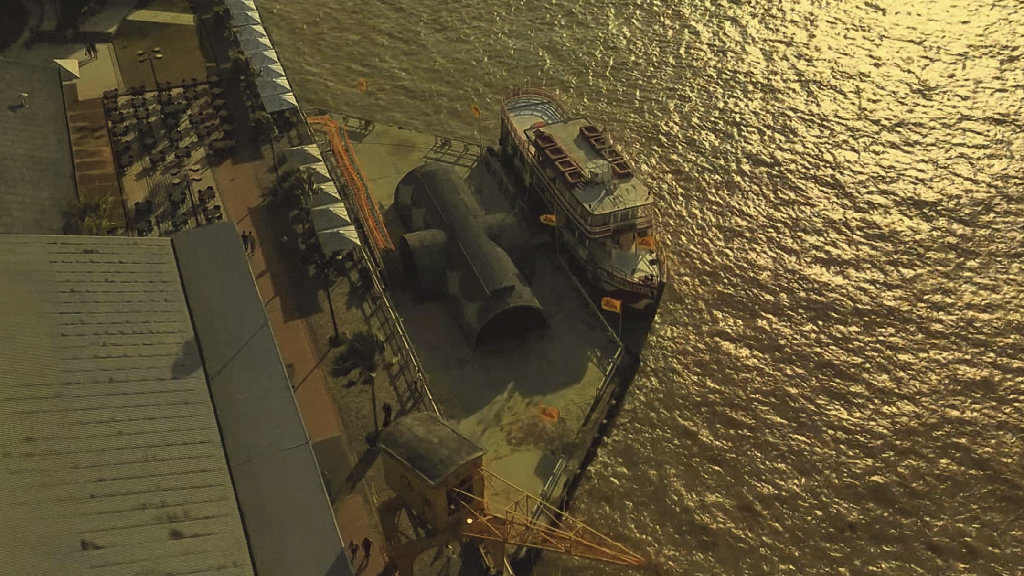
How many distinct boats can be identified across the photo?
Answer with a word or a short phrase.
one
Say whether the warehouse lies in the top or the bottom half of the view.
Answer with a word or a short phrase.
bottom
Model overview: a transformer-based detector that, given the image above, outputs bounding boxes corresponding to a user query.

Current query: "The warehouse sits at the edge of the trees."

[0,223,355,576]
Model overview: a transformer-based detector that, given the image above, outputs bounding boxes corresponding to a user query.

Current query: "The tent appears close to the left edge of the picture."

[51,58,86,100]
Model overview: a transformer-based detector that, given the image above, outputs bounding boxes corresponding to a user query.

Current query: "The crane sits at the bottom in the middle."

[362,415,651,576]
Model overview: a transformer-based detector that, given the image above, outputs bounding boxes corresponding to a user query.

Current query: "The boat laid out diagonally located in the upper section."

[498,82,666,336]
